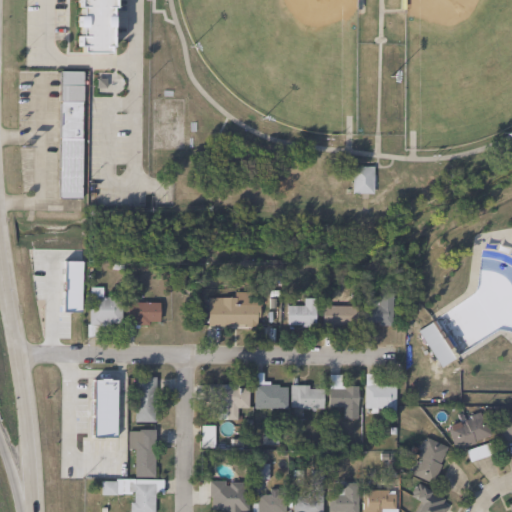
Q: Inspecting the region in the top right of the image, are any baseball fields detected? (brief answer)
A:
Yes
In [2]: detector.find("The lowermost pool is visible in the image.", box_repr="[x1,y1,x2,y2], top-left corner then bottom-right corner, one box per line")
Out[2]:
[216,464,235,480]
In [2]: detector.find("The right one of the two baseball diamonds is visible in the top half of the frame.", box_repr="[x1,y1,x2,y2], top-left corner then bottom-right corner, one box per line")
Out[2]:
[406,0,512,149]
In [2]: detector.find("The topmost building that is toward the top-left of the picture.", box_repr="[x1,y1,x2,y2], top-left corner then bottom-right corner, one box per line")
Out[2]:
[76,0,121,54]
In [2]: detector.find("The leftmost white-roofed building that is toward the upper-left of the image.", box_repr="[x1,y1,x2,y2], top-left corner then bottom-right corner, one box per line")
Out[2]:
[61,72,86,198]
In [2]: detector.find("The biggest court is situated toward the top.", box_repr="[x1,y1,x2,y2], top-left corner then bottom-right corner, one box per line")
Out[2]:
[152,96,186,154]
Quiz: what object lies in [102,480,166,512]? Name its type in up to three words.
house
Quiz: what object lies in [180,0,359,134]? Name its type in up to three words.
baseball field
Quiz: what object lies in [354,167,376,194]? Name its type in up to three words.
building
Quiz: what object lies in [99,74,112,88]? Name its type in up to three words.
gazebo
